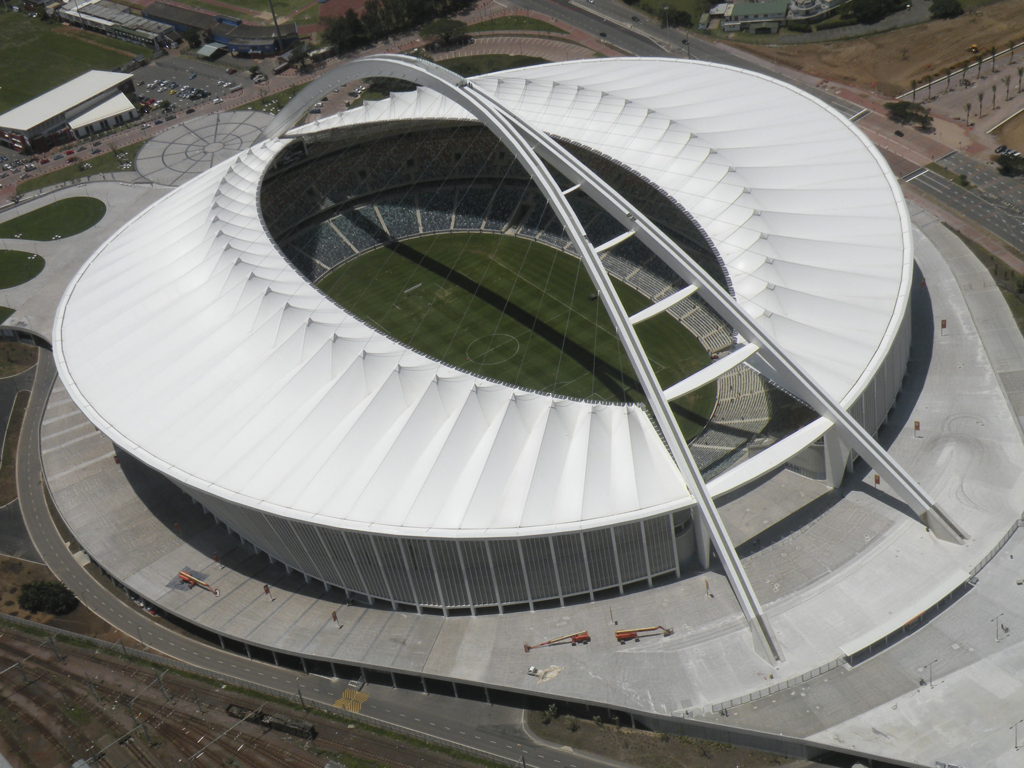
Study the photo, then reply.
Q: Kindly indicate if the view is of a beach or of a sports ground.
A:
sports ground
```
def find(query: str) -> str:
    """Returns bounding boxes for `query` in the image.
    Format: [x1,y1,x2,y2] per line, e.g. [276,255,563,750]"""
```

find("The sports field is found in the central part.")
[317,233,720,461]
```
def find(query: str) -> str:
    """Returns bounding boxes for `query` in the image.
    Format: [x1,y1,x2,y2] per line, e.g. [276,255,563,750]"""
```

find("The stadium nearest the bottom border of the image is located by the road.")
[50,58,916,616]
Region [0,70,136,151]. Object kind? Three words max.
building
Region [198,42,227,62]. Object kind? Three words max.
shed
